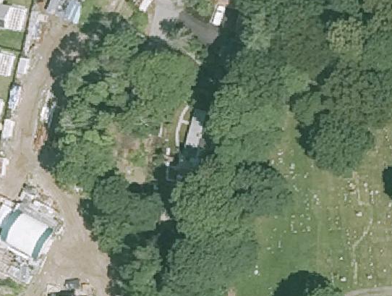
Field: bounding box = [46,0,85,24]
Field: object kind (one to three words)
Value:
shed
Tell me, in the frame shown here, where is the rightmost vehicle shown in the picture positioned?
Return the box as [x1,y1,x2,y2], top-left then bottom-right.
[210,5,226,27]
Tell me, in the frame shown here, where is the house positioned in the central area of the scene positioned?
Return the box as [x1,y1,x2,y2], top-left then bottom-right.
[184,107,208,148]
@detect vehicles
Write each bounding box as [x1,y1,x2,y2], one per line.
[210,5,226,27]
[136,0,151,11]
